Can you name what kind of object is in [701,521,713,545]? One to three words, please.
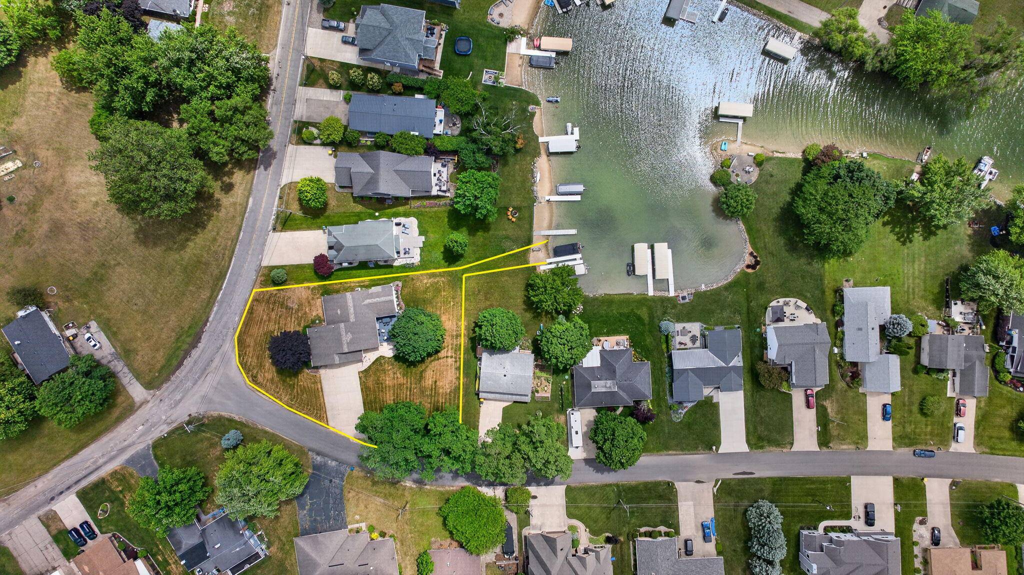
vehicle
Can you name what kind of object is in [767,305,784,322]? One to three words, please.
gazebo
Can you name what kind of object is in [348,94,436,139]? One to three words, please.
house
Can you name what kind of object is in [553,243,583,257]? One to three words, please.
boat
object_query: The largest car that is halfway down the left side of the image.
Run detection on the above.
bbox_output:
[84,331,101,351]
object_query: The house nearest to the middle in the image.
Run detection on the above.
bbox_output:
[479,338,534,402]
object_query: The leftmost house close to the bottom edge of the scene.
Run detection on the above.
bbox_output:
[72,536,144,575]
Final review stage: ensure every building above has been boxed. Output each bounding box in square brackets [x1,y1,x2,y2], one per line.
[765,322,833,389]
[348,94,436,139]
[326,219,401,265]
[925,545,1011,575]
[671,329,747,403]
[172,514,266,575]
[1,308,76,385]
[419,0,458,10]
[915,334,989,398]
[355,4,439,71]
[635,535,726,575]
[428,546,482,575]
[479,338,534,402]
[840,286,901,393]
[294,527,400,575]
[149,19,176,34]
[142,0,195,19]
[574,347,652,408]
[333,151,435,198]
[791,527,901,575]
[527,527,612,575]
[72,536,144,575]
[307,285,397,367]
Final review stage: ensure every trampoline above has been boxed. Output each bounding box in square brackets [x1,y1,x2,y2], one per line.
[455,38,472,55]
